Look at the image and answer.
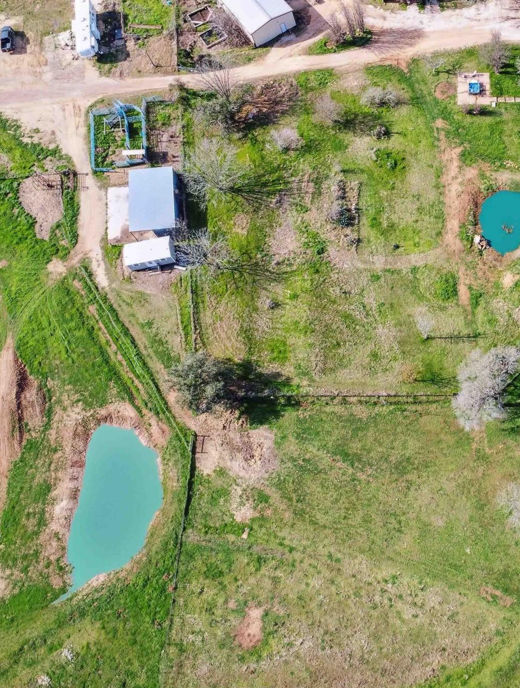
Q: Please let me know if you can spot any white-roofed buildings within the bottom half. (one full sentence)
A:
No, looking within the bottom half, there is no white-roofed building.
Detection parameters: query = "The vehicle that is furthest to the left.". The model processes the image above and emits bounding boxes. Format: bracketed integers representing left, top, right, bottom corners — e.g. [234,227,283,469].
[0,25,16,54]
